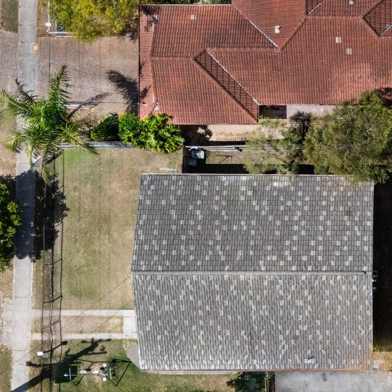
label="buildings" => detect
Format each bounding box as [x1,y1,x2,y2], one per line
[137,0,392,126]
[131,171,376,372]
